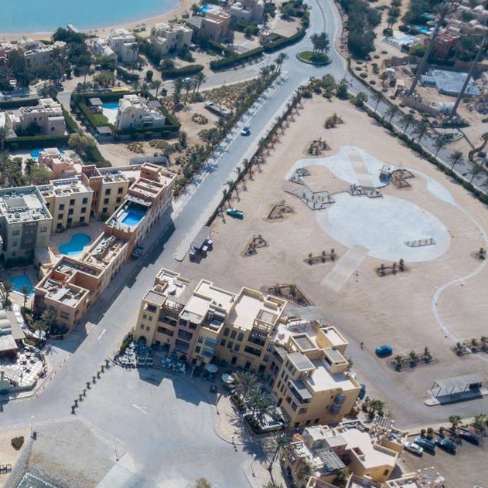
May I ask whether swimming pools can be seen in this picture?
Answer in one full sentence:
Yes, the frame does contain a swimming pool.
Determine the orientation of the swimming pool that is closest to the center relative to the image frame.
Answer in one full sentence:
The swimming pool that is closest to the center is oriented on a diagonal.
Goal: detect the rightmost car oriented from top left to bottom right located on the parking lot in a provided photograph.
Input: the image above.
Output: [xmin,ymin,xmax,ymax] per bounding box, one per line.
[458,426,483,445]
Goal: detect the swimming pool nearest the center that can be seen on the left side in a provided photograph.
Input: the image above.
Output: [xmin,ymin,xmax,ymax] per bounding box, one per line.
[122,205,148,228]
